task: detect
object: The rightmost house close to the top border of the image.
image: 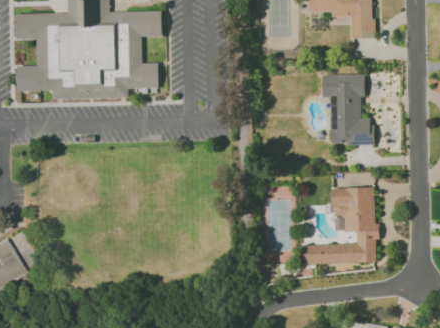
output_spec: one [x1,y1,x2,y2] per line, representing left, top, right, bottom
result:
[309,0,376,38]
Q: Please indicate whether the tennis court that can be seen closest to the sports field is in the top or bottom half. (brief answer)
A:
bottom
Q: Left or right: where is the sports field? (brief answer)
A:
left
